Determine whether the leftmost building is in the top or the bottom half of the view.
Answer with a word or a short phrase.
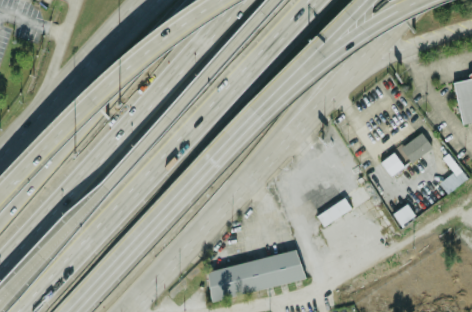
bottom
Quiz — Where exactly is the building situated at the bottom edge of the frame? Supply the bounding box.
[208,250,306,300]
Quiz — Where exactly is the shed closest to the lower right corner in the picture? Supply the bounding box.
[392,204,416,228]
